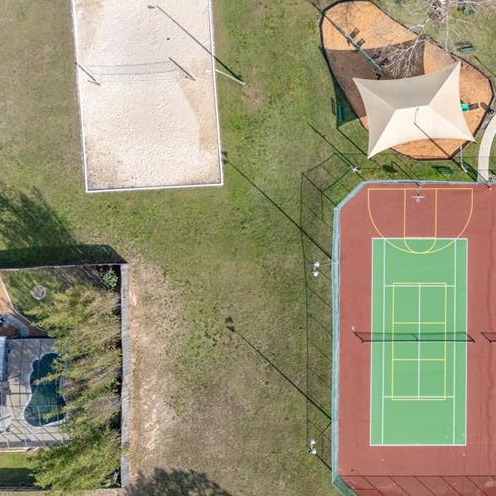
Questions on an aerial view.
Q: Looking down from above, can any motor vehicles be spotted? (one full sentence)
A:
No, I can't see a single motor vehicle in this photo.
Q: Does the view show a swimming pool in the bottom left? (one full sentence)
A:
Yes, a swimming pool can be seen in the bottom left.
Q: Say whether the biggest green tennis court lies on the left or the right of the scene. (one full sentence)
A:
The biggest green tennis court is on the right side of the image.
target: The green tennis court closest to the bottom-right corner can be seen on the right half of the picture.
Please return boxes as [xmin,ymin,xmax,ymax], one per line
[371,239,467,446]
